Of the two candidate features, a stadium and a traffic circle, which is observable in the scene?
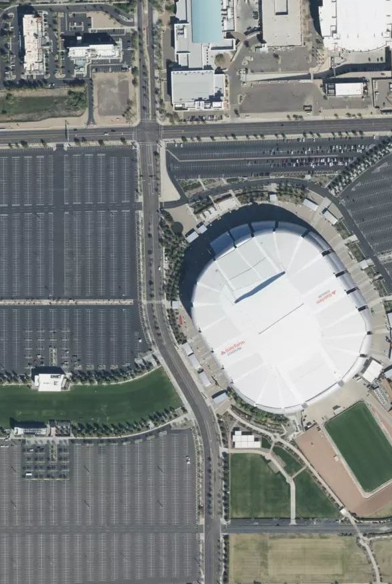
stadium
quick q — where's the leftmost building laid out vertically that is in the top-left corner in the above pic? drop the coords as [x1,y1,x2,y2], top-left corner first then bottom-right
[23,13,49,75]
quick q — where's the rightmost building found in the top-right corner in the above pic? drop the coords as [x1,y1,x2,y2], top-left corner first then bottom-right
[328,83,364,95]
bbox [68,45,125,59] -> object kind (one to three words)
building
